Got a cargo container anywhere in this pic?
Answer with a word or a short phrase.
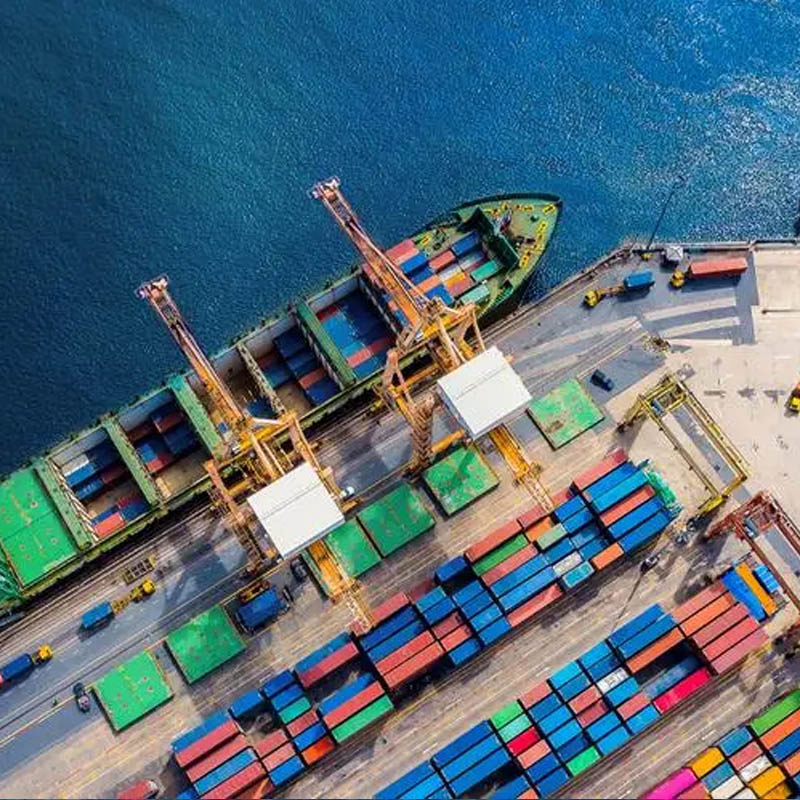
Yes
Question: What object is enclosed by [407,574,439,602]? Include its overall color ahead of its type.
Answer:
red shipping container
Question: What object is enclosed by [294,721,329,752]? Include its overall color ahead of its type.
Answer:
blue shipping container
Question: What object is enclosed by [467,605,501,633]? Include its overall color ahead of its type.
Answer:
blue shipping container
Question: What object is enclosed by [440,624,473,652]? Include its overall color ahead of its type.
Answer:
red shipping container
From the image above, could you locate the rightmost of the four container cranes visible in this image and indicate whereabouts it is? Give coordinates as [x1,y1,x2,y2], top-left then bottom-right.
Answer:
[691,491,800,646]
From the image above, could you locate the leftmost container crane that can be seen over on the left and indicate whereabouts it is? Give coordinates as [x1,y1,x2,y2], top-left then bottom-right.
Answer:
[137,273,377,641]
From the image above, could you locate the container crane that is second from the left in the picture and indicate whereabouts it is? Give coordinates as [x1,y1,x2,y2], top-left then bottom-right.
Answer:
[313,177,565,518]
